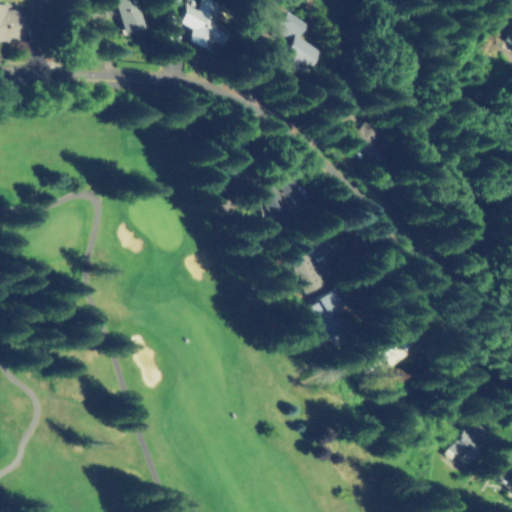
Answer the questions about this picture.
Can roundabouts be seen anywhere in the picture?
No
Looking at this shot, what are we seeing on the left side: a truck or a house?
house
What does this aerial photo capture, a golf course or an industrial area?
golf course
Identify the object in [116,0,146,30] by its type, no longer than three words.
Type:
house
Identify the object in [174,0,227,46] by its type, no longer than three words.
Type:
house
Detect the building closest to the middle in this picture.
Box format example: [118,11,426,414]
[262,183,293,212]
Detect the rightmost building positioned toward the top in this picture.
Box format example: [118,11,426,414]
[356,118,379,143]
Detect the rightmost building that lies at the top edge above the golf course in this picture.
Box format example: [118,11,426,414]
[281,10,320,67]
